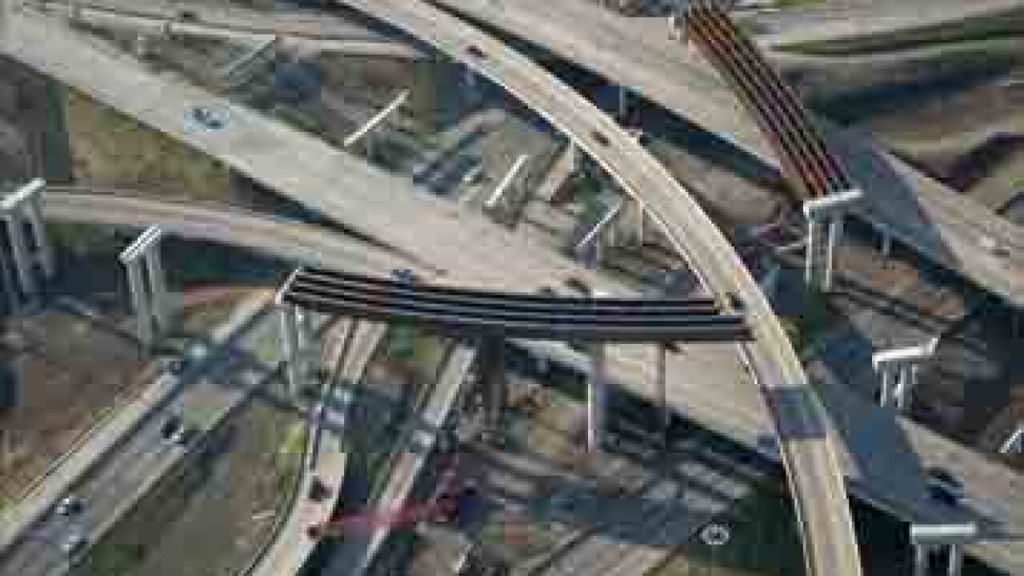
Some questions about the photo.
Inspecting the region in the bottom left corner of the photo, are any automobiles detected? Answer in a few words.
Yes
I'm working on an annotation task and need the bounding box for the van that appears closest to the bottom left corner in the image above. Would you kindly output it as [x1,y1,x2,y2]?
[53,530,88,560]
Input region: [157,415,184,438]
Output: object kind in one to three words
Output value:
car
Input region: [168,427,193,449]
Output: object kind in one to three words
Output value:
car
